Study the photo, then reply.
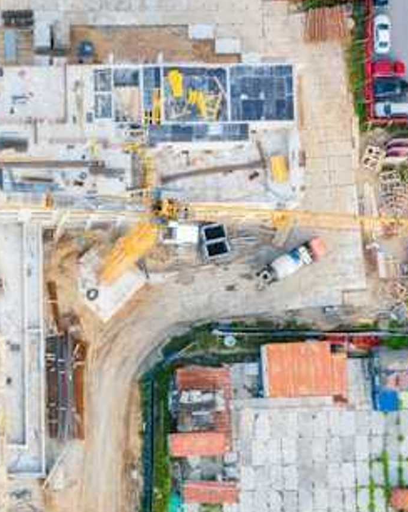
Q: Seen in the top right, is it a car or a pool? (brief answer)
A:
car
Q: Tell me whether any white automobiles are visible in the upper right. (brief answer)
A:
Yes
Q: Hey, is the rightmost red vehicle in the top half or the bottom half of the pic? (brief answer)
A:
top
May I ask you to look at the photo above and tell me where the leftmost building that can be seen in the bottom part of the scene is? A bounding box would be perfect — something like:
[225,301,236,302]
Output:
[0,207,138,475]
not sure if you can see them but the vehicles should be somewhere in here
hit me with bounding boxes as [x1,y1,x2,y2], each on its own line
[377,97,408,117]
[377,55,408,76]
[259,229,337,288]
[376,13,396,52]
[377,74,408,96]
